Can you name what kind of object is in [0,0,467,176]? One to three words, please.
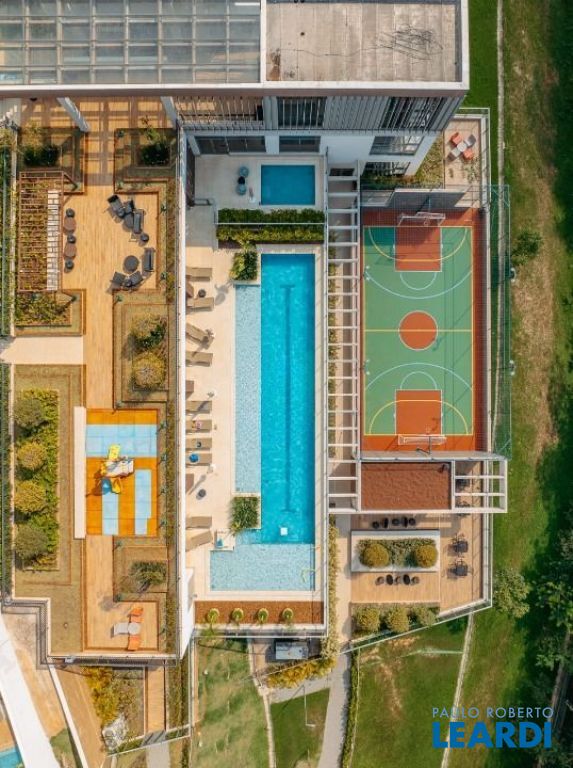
building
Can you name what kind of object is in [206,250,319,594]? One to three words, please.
swimming pool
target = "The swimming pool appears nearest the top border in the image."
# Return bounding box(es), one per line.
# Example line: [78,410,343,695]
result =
[258,162,318,205]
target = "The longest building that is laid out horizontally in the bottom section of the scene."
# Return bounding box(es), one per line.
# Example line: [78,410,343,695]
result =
[325,450,507,514]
